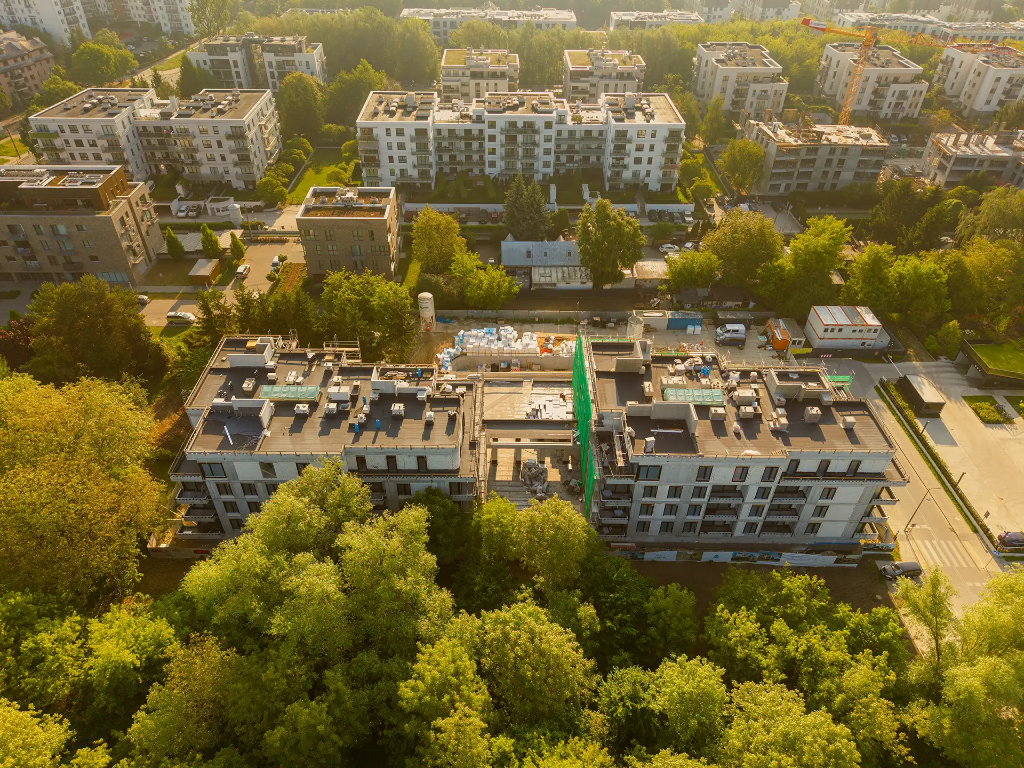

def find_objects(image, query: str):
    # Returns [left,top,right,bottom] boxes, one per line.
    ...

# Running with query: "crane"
[774,25,1024,127]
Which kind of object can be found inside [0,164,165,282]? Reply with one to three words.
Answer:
building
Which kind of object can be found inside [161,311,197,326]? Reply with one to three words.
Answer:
car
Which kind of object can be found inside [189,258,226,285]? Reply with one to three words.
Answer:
shed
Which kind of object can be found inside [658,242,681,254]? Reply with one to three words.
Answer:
vehicle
